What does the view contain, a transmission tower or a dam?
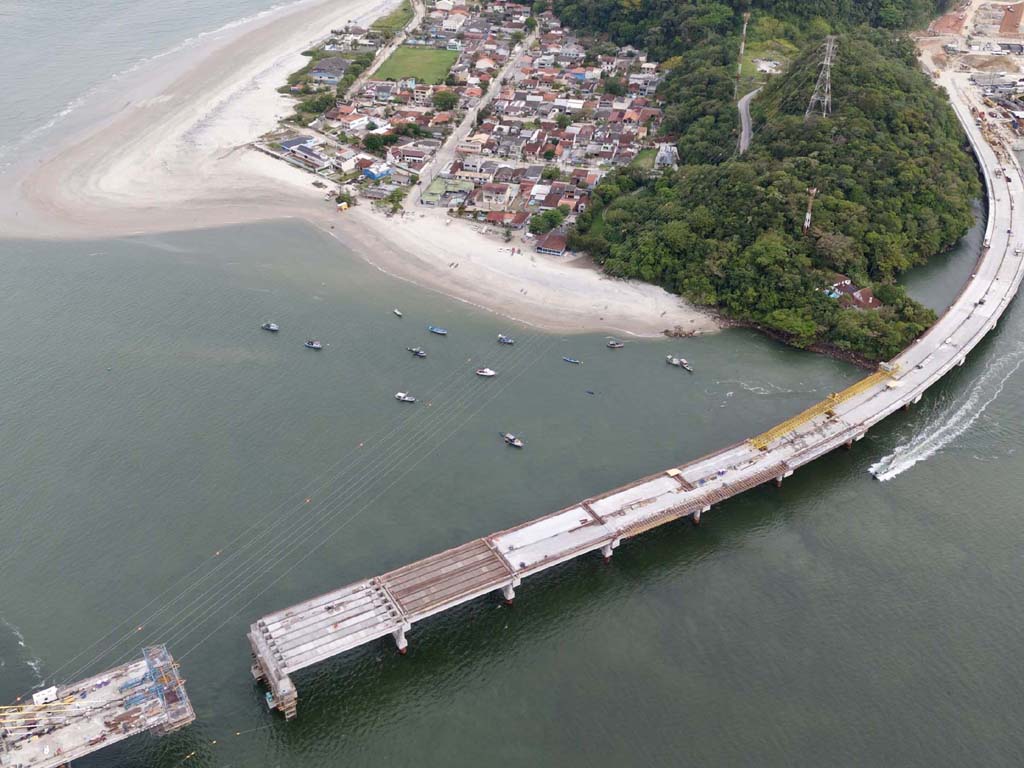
transmission tower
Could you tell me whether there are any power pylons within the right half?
Yes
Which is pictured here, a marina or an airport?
marina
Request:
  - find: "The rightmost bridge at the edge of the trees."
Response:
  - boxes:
[250,93,1024,688]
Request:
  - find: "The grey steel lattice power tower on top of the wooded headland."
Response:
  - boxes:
[802,30,840,117]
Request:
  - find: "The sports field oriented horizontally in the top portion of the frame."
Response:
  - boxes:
[373,46,461,83]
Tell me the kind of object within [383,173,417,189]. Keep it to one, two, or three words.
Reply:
house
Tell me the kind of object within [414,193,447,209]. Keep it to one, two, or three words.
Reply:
house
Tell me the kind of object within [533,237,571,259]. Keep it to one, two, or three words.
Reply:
building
